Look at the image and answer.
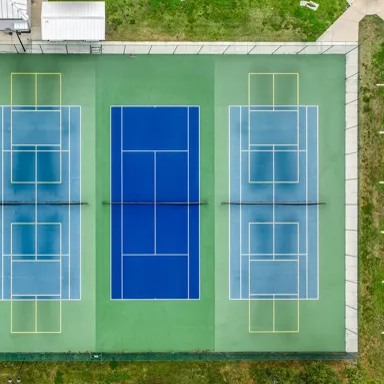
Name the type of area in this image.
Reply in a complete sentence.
The area seen from above is a sports ground.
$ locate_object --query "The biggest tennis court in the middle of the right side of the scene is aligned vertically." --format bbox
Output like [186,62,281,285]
[215,54,346,352]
